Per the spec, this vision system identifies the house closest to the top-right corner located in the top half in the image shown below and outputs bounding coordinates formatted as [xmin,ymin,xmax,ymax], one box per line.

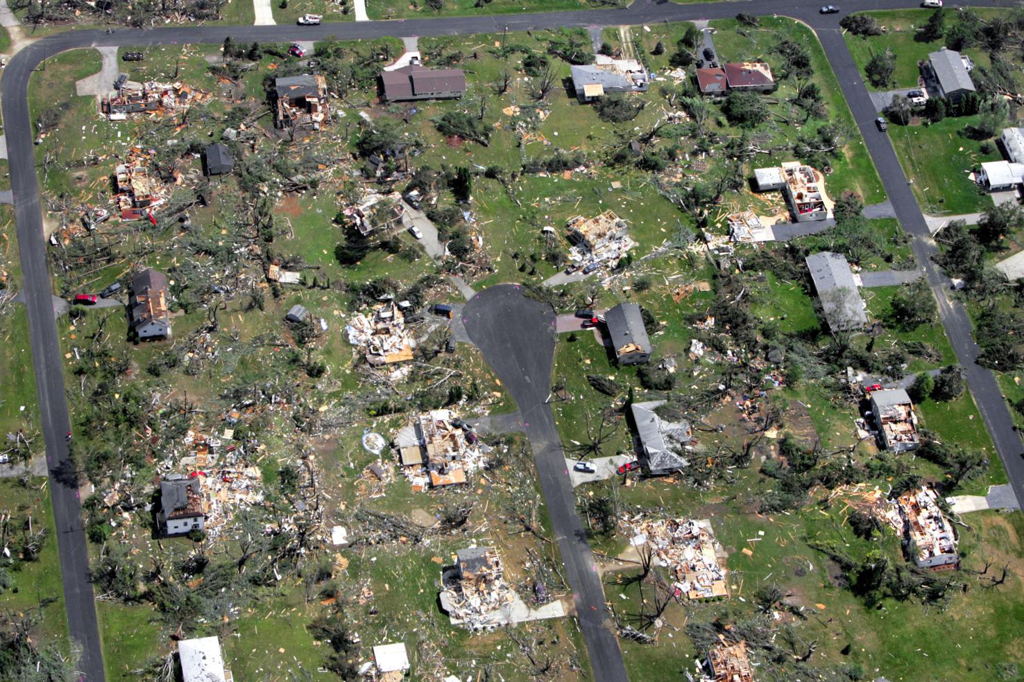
[928,45,976,100]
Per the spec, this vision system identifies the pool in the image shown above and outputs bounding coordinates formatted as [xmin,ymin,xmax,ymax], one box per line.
[362,432,385,453]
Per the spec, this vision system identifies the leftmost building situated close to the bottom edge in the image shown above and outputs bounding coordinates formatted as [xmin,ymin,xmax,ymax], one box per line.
[178,636,235,682]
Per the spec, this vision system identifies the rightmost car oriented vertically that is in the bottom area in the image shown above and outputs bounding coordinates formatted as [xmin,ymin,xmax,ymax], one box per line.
[534,579,546,599]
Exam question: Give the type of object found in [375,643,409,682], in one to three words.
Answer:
shed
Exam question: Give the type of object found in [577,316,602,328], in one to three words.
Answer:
vehicle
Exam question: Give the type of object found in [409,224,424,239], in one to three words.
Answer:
car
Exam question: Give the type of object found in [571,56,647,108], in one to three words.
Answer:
house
